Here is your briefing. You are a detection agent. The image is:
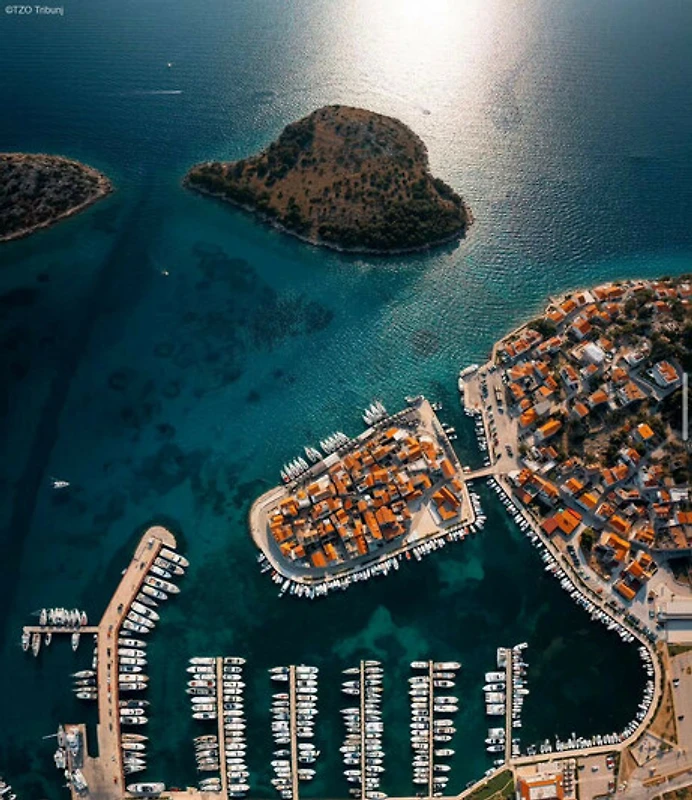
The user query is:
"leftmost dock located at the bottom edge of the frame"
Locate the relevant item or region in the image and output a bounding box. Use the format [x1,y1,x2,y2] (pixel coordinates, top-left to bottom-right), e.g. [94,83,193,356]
[65,526,222,800]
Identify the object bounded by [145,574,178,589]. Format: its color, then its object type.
white boat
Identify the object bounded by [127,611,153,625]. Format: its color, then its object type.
white boat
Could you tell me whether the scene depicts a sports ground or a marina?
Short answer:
marina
